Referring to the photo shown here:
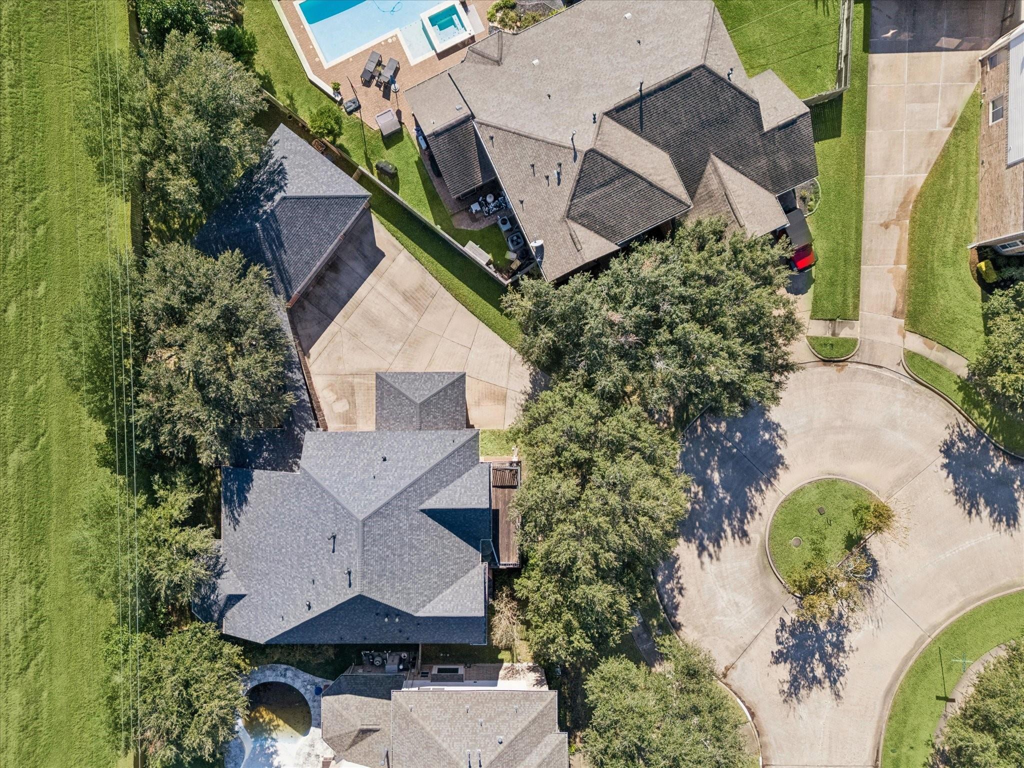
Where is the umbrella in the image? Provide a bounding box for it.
[387,71,399,92]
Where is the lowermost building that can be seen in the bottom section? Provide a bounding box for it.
[319,660,570,768]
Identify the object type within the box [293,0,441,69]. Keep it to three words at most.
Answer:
swimming pool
